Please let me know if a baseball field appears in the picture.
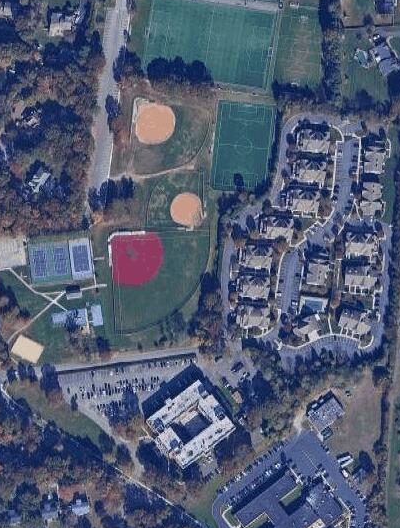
Yes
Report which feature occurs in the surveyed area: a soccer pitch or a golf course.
soccer pitch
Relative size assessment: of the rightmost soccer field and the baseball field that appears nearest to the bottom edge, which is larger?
the baseball field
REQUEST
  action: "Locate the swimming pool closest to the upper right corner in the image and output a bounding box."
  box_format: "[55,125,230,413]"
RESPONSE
[356,47,369,66]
